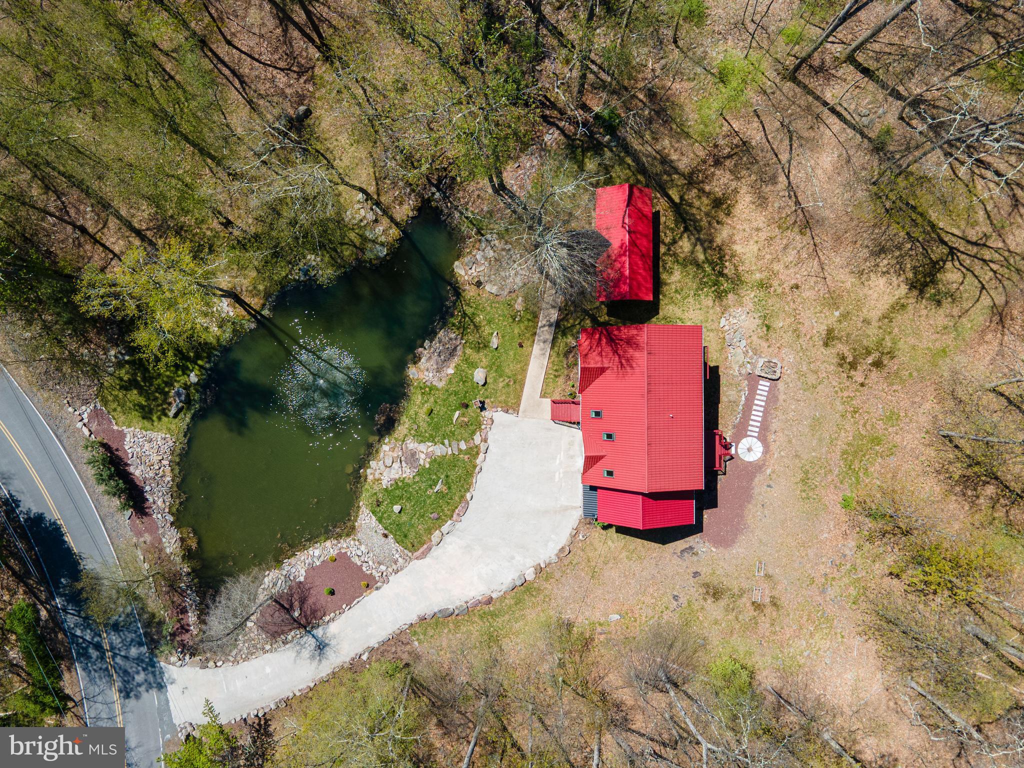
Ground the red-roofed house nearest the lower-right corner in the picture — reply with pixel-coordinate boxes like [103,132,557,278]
[550,324,735,529]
